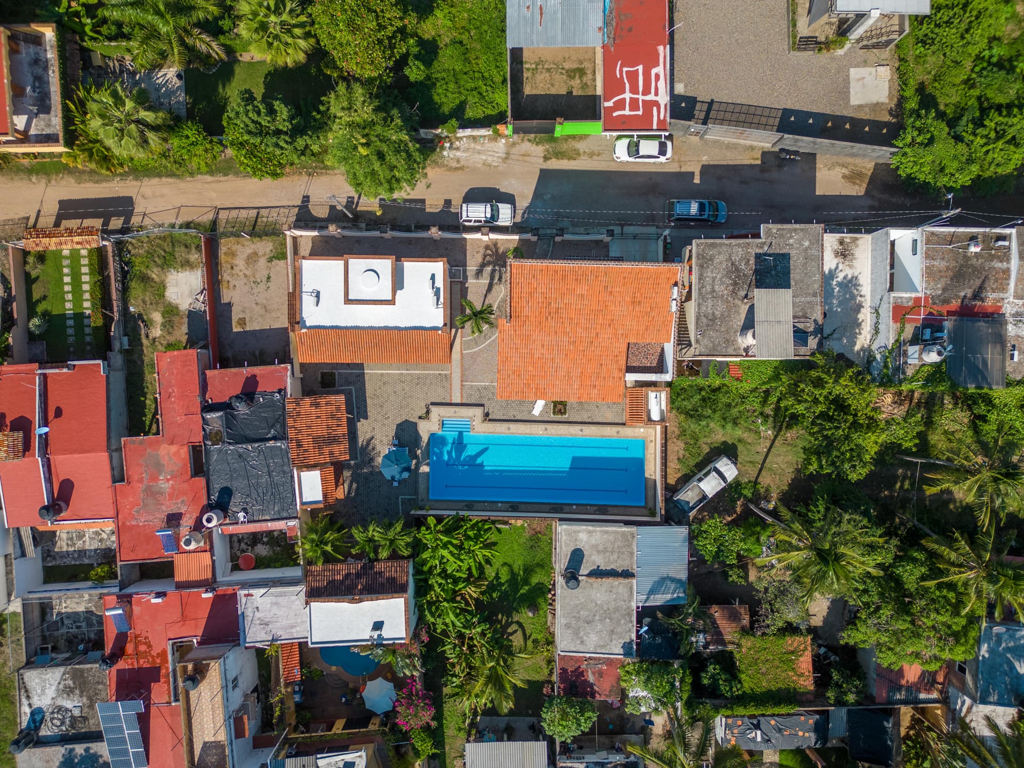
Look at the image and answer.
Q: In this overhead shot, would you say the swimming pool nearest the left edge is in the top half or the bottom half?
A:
bottom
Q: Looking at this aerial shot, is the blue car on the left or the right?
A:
right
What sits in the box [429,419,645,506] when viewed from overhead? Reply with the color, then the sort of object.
blue swimming pool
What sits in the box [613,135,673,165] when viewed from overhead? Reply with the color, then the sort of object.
white car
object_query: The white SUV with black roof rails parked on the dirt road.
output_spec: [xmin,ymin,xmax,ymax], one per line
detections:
[459,200,514,229]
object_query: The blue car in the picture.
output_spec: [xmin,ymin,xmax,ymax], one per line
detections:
[665,197,726,227]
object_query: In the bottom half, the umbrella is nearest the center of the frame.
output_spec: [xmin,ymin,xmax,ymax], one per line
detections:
[379,445,413,479]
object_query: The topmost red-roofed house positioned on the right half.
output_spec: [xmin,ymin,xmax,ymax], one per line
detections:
[600,0,669,140]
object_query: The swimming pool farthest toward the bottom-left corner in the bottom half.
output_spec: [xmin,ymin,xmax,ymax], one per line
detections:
[320,645,385,675]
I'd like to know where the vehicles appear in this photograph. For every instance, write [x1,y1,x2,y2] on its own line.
[776,149,802,159]
[665,197,726,227]
[613,135,673,165]
[670,455,739,517]
[459,200,514,229]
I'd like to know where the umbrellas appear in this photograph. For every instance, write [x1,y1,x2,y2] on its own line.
[379,445,413,479]
[362,674,398,710]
